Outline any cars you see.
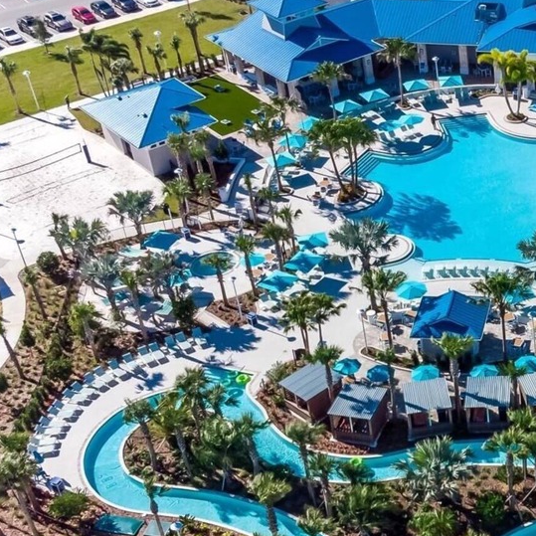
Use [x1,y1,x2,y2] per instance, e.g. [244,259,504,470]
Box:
[108,0,137,9]
[40,3,72,29]
[0,22,24,44]
[65,2,98,23]
[85,0,118,17]
[9,10,38,35]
